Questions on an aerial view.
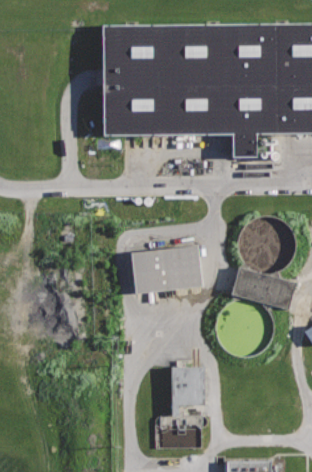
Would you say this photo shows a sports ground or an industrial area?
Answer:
industrial area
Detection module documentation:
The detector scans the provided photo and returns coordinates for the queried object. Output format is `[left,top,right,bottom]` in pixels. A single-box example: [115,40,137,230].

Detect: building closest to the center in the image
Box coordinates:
[131,245,202,294]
